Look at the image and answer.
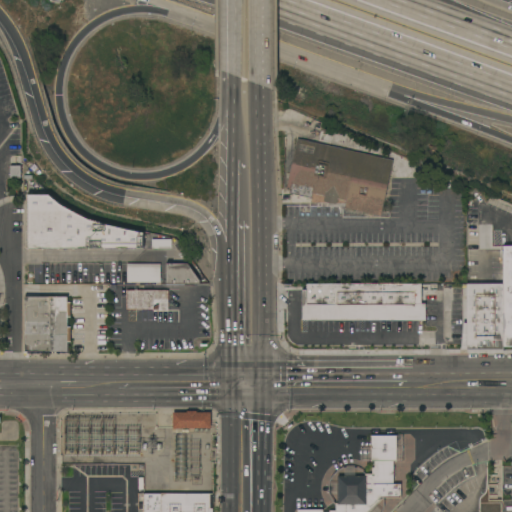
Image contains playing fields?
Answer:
No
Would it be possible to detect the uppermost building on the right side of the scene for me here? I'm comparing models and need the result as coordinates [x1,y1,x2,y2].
[288,138,392,217]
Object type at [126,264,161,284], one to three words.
building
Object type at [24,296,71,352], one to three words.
building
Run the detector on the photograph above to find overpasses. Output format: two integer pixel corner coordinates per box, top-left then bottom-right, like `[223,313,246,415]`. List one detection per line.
[216,0,278,92]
